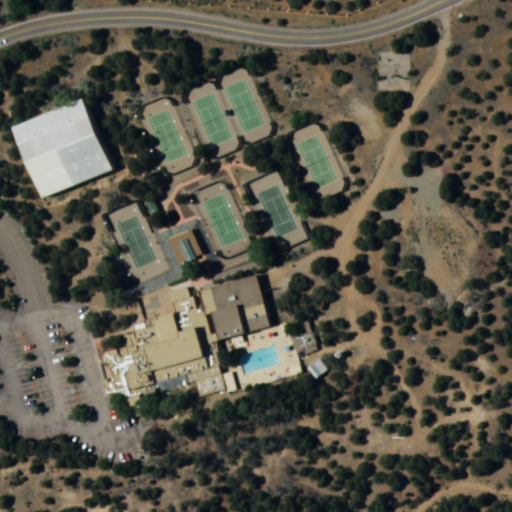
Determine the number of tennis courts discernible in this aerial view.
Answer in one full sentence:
In total, there are 7 tennis courts in the scene.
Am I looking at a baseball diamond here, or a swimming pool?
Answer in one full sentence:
I can see a swimming pool in this picture.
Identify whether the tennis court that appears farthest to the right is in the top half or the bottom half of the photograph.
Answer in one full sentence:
The top half of the photo is where the tennis court that appears farthest to the right is.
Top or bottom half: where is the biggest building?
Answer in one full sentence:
The bottom half of the photo is where the biggest building is.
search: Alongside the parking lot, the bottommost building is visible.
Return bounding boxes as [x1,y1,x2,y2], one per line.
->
[104,276,270,408]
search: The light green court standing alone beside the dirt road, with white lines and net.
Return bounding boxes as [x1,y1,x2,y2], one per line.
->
[292,125,343,198]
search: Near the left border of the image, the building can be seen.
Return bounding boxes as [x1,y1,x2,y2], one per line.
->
[12,99,115,198]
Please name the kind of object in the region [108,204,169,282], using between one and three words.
tennis court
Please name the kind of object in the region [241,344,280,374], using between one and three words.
swimming pool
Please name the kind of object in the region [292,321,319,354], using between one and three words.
building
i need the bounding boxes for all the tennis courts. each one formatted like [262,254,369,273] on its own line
[142,100,194,172]
[220,69,270,142]
[188,83,238,156]
[249,172,308,246]
[198,184,249,256]
[108,204,169,282]
[292,125,343,198]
